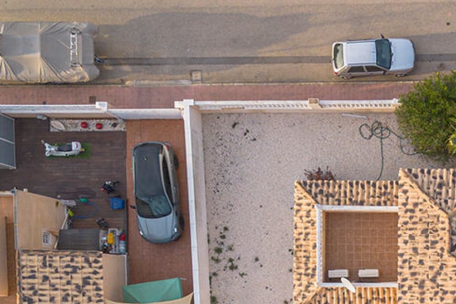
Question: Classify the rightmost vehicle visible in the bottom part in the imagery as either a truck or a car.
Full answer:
From above, the rightmost vehicle visible in the bottom part can be identified as a car.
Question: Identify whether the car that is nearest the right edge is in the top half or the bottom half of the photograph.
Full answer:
Seen from above, the car that is nearest the right edge lies in the top half of the view.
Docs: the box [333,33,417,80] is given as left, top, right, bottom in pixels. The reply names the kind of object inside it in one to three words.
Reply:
car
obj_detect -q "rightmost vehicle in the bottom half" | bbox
[131,142,185,243]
